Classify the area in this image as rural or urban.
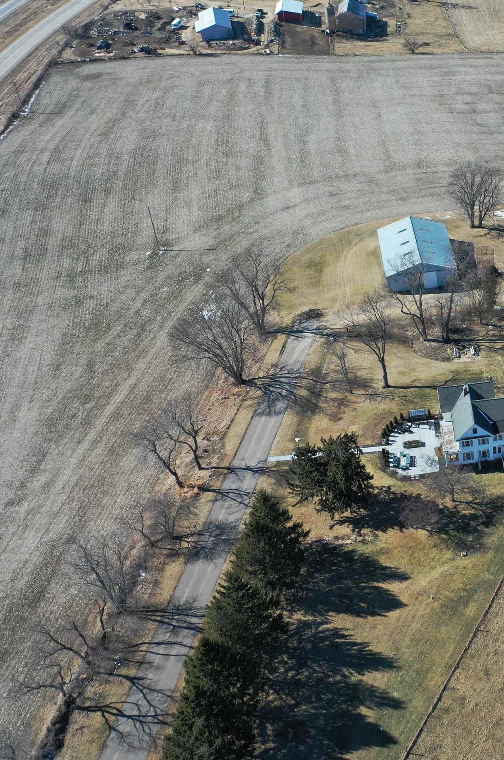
rural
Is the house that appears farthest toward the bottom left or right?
right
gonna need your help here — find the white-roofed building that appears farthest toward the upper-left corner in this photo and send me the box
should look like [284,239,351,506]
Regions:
[191,9,236,42]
